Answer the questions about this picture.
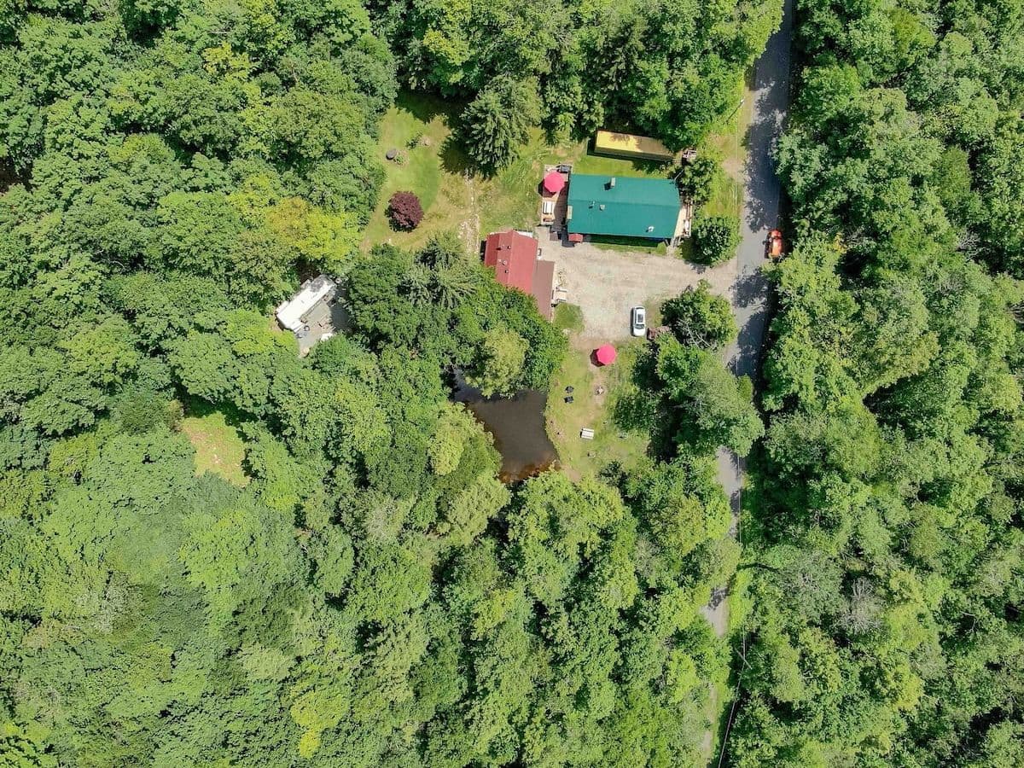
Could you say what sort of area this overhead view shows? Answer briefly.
forest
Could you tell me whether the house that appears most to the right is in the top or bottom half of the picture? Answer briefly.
top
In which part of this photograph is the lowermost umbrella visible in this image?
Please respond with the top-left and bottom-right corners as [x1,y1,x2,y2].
[594,344,615,365]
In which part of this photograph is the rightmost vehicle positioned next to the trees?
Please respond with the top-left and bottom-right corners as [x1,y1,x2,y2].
[768,231,783,260]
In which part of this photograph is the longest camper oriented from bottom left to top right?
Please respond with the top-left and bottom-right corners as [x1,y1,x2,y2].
[275,274,339,333]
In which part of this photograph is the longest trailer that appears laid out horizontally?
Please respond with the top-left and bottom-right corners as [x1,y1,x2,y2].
[593,133,676,164]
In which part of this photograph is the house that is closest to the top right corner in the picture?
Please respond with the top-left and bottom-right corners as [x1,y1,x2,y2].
[567,174,681,243]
